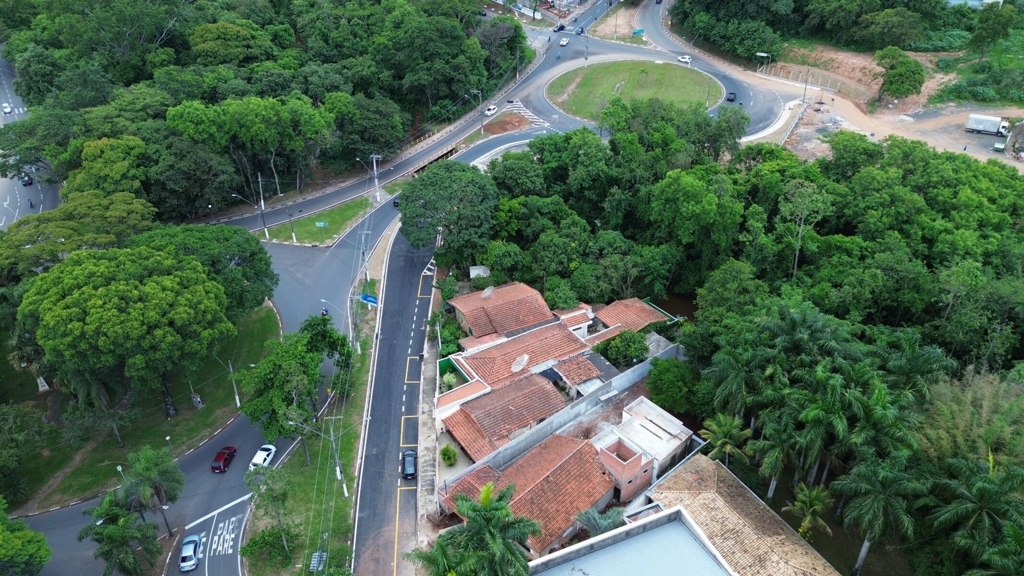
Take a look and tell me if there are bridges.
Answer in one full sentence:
Yes, I can see a bridge in this picture.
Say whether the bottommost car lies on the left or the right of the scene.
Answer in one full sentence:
You can find the bottommost car on the left side of the picture.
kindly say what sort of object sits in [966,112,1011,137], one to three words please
truck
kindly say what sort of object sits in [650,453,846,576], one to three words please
house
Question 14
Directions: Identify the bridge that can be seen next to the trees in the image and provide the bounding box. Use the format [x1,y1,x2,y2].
[397,126,482,173]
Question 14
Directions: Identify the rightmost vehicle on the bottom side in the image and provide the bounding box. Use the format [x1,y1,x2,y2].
[401,451,417,478]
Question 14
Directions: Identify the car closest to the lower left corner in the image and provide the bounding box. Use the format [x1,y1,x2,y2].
[178,533,201,570]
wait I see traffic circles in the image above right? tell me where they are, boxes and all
[441,0,802,162]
